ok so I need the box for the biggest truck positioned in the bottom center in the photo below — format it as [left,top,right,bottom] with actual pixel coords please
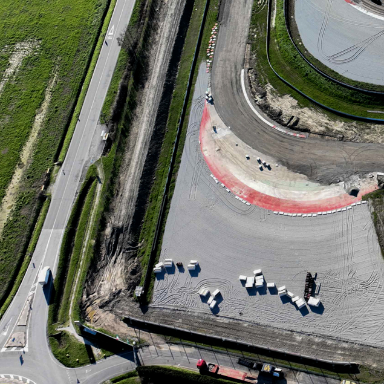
[188,352,255,383]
